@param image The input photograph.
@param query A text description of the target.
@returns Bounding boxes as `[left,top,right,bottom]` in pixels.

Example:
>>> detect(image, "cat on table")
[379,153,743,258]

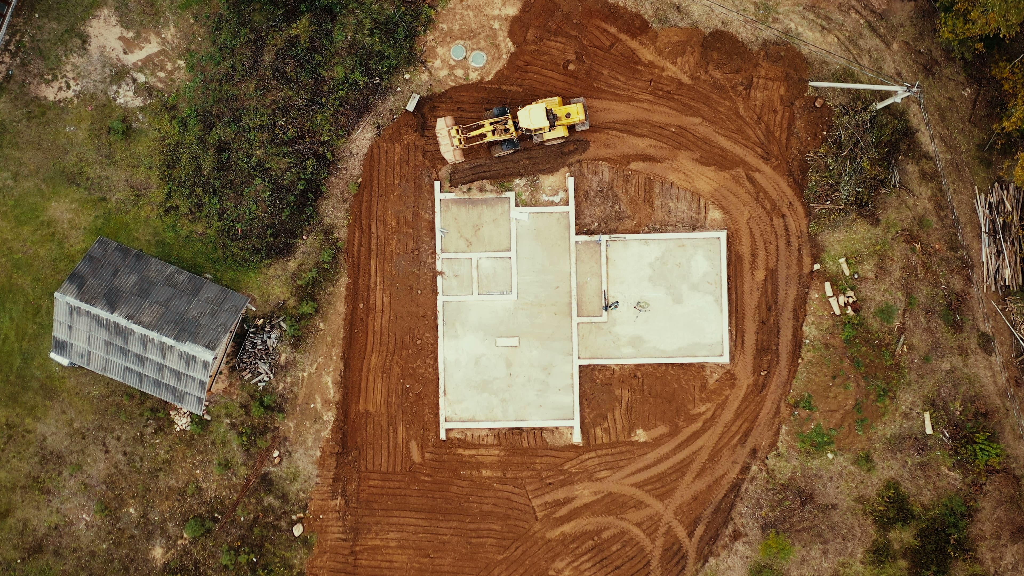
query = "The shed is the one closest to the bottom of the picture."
[52,236,258,415]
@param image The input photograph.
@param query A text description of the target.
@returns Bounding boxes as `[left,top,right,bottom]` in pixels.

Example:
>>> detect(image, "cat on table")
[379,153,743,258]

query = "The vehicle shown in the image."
[436,96,589,165]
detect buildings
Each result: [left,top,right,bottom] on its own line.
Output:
[0,0,17,44]
[52,236,258,415]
